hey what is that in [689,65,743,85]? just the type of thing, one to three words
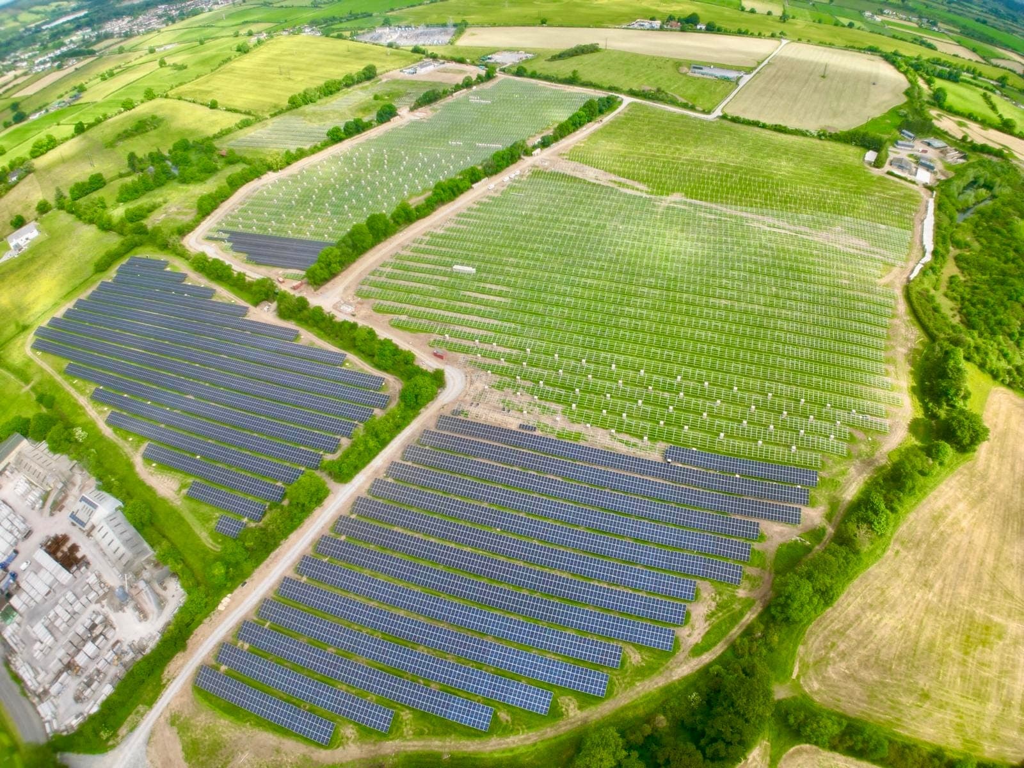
shed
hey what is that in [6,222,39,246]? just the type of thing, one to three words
house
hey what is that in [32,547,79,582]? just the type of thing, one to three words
shed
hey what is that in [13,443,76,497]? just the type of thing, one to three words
barn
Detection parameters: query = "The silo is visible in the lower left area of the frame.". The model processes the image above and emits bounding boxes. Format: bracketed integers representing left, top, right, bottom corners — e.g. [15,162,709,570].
[101,578,127,601]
